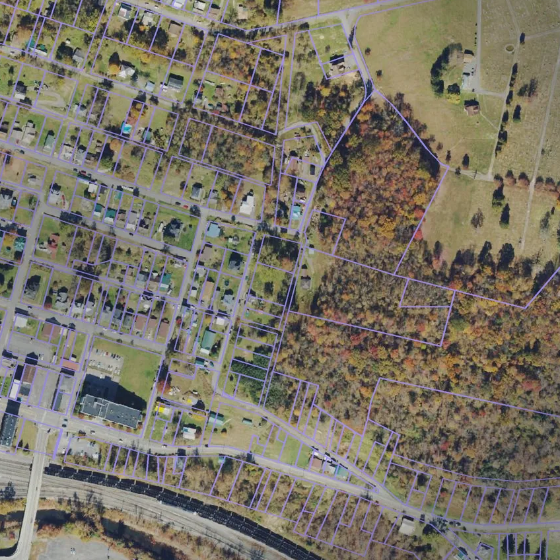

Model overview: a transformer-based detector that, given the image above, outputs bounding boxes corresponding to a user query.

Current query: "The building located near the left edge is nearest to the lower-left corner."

[0,410,20,448]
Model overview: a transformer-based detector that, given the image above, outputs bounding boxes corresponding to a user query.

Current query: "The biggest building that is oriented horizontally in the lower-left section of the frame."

[80,396,144,428]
